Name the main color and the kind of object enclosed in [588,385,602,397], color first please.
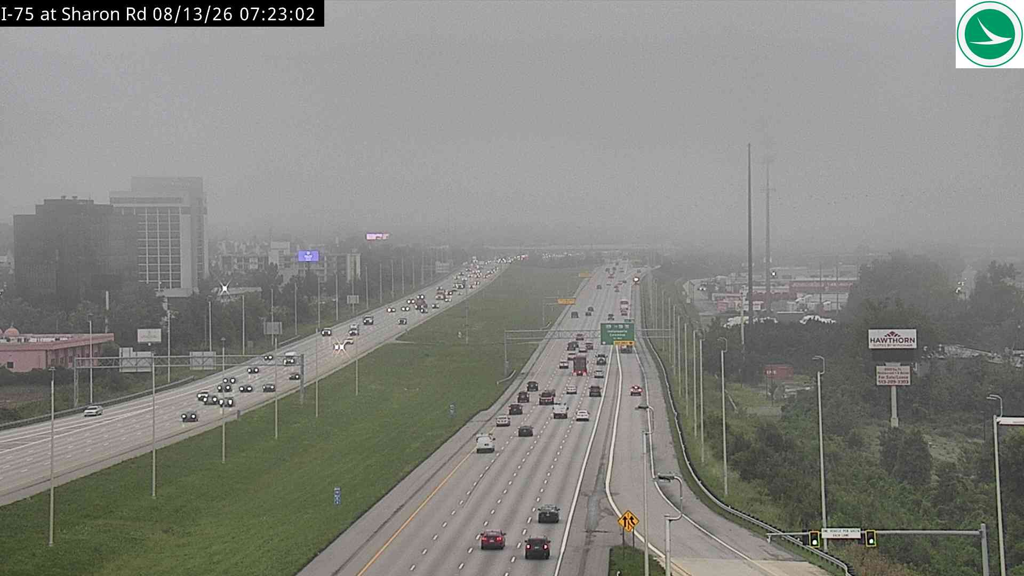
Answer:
gray vehicle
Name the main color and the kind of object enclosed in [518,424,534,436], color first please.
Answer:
gray vehicle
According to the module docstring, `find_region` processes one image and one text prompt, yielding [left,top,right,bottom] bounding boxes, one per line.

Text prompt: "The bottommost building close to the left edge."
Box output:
[0,326,117,373]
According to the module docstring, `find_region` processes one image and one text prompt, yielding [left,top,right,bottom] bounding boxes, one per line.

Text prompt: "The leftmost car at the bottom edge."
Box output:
[481,528,508,548]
